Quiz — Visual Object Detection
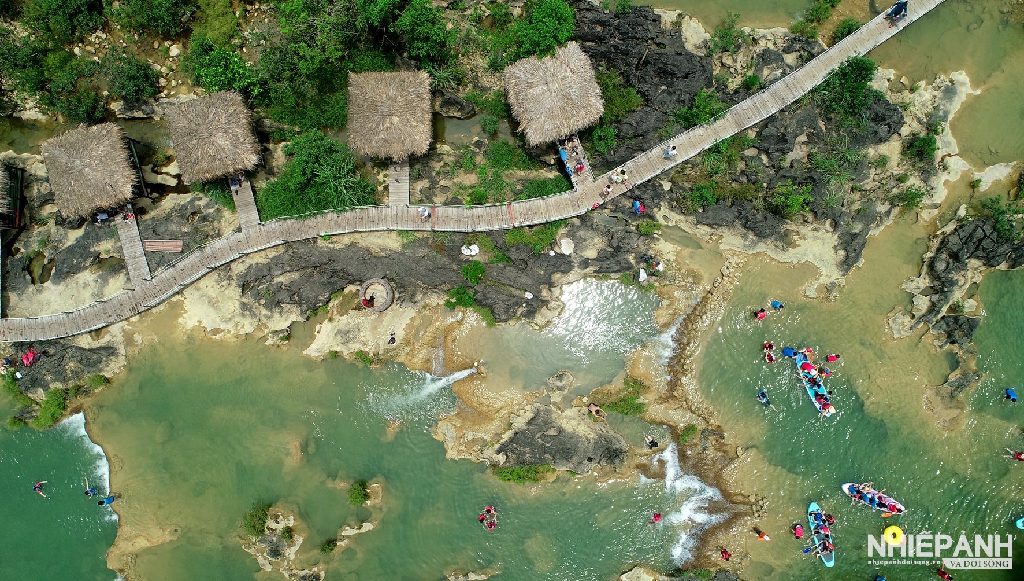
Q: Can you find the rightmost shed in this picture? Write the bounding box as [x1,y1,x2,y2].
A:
[500,41,607,149]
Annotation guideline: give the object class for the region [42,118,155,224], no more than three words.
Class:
shed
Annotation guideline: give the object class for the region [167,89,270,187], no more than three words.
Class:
shed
